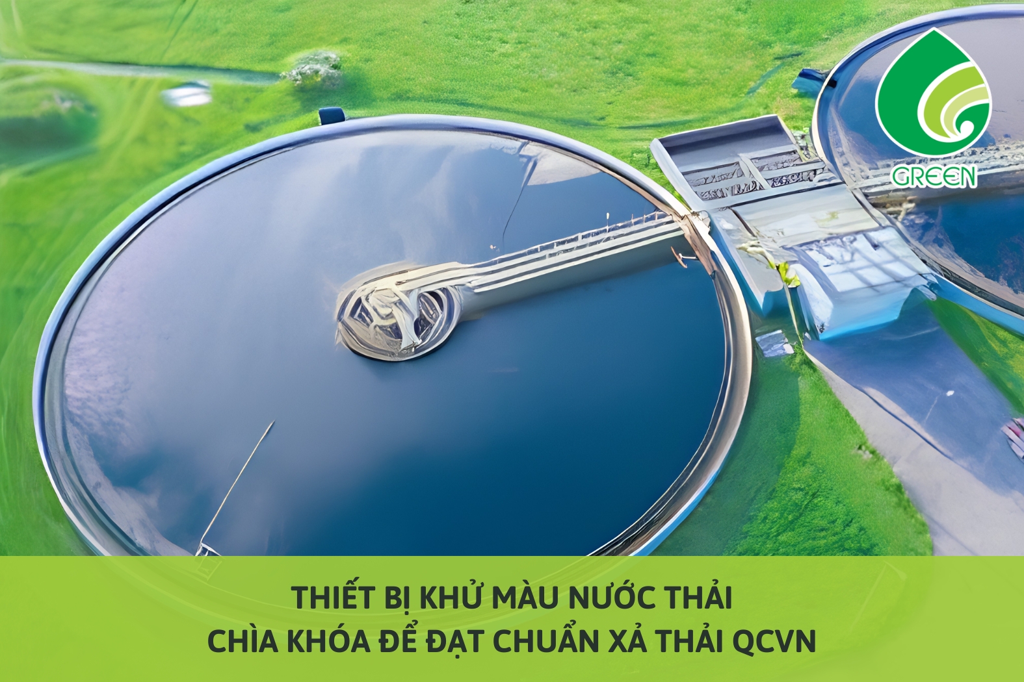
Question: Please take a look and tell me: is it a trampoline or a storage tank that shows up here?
storage tank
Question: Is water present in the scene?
Yes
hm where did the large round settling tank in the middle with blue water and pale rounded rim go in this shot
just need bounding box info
[31,115,752,651]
